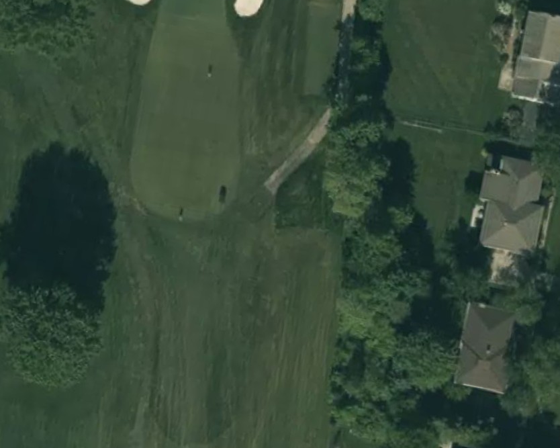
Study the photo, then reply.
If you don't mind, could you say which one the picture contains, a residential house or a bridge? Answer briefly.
residential house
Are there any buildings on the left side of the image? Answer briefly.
No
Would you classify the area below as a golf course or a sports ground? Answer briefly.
golf course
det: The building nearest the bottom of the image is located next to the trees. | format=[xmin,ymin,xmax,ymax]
[454,301,515,394]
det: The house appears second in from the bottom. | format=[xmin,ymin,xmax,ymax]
[477,154,546,256]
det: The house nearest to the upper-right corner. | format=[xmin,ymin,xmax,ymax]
[509,9,560,106]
